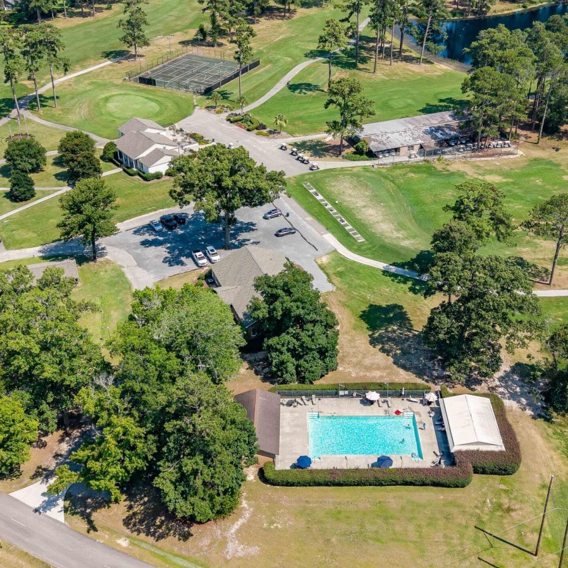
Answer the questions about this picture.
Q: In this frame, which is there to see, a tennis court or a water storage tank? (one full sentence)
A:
Of the two, only a tennis court appears.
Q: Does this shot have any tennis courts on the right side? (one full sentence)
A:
No, the scene shows no tennis court on the right side.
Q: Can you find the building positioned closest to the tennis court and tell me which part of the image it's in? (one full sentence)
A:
The building positioned closest to the tennis court appears toward the top left of the photo.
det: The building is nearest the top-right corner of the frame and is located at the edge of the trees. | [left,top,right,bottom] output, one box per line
[344,109,489,160]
